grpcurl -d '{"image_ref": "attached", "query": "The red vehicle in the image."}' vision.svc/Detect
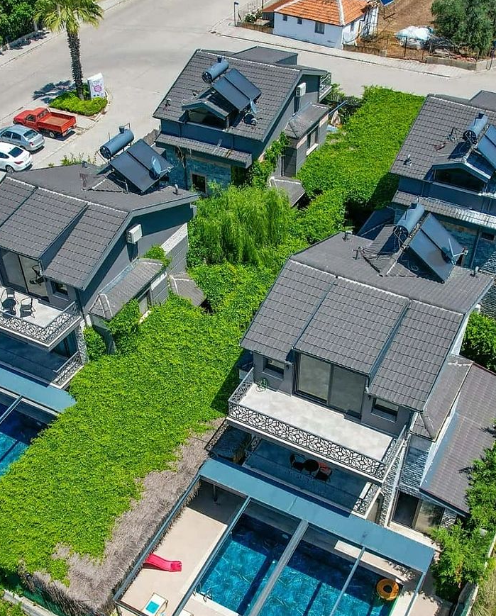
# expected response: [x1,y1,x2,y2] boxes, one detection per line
[12,106,73,137]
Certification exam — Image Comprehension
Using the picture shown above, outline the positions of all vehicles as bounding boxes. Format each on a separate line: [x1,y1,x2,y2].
[12,106,73,137]
[0,144,31,173]
[0,123,44,152]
